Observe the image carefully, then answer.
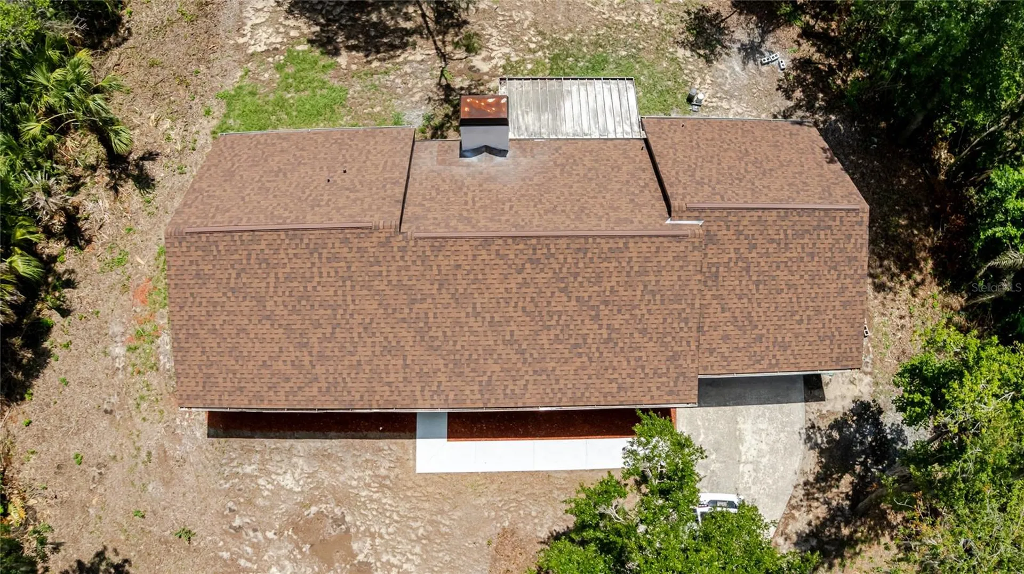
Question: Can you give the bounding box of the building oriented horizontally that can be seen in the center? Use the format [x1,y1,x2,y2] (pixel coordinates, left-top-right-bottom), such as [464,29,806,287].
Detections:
[166,78,869,414]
